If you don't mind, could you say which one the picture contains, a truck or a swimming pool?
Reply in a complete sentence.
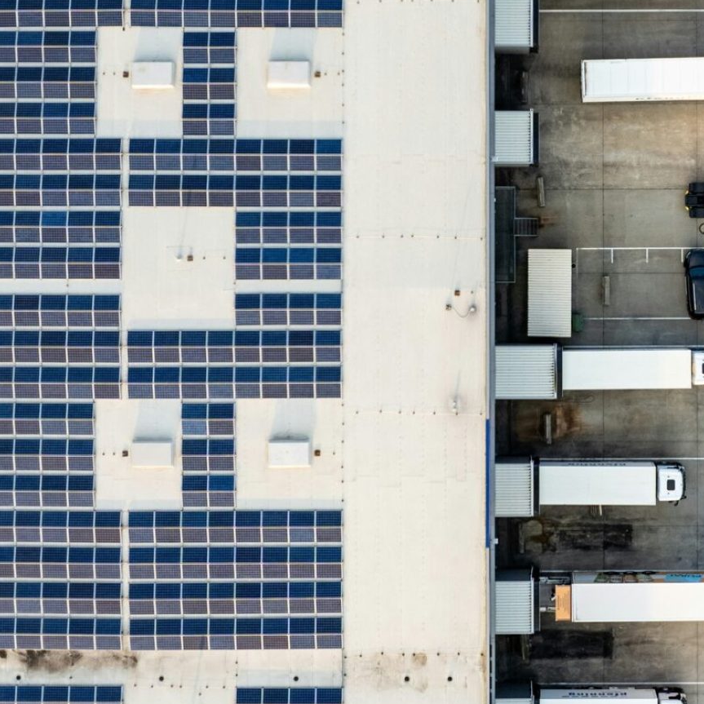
The one in the frame is a truck.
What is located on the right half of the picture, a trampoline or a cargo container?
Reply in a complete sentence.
What appears on the right half of the picture is a cargo container.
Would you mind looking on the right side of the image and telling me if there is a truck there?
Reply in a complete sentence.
Yes, a truck appears on the right side of the image.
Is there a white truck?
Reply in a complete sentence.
Yes, you can see a white truck in this photo.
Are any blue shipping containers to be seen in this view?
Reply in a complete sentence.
No, the scene contains no blue shipping container.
